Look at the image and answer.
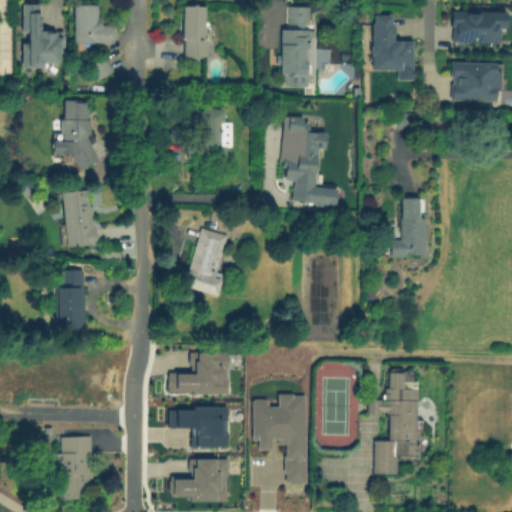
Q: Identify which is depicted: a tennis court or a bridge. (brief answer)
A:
tennis court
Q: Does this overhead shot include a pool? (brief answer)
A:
Yes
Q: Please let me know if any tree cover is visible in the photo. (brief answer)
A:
Yes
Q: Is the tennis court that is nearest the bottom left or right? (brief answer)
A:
right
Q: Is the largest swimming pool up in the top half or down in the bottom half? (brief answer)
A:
top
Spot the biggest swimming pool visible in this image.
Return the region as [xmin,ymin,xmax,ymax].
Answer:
[320,69,350,93]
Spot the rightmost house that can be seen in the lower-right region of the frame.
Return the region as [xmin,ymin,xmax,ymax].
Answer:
[372,372,421,476]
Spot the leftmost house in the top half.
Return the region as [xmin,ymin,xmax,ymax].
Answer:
[24,4,66,68]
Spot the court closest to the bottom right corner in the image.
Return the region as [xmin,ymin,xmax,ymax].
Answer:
[316,362,358,446]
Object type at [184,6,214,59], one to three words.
house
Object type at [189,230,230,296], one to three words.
house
